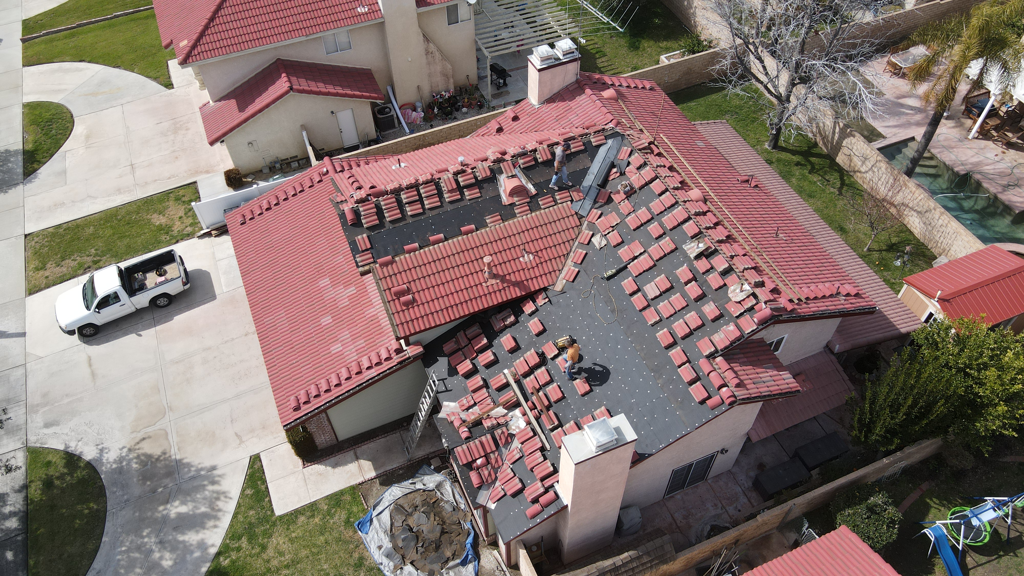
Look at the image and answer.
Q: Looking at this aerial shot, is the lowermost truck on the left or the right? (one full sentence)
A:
It is on the left.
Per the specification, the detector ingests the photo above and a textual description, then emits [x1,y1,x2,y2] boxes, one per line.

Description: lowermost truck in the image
[52,250,193,338]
